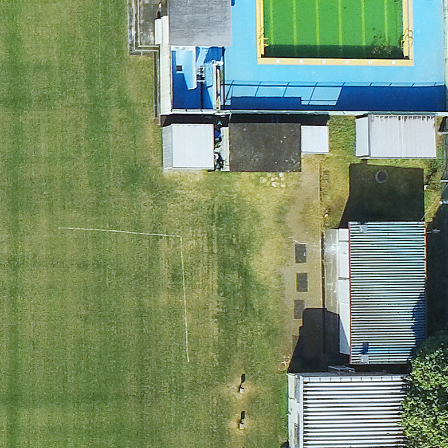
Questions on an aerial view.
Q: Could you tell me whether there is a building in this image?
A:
Yes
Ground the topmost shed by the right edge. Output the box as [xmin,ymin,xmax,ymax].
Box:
[343,115,436,159]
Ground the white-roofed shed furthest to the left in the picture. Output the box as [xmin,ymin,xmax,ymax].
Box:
[164,124,213,168]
